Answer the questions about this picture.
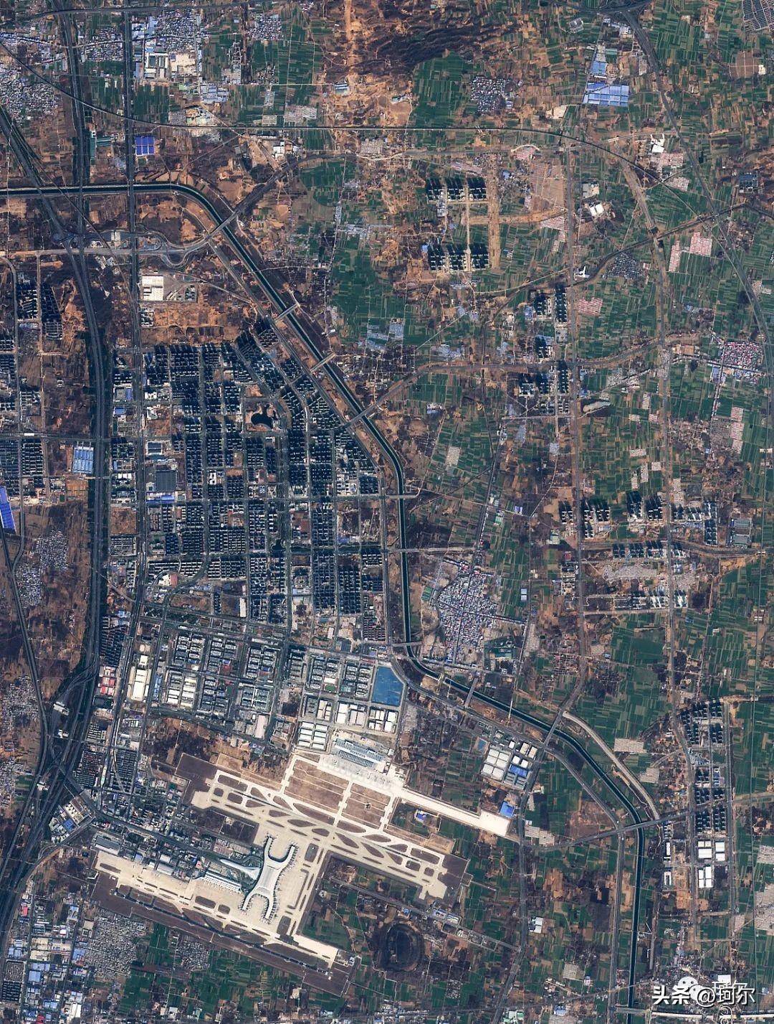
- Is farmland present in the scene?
Yes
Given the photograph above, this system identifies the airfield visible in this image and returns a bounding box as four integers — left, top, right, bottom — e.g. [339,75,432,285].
[91,749,510,996]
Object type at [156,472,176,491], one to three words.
building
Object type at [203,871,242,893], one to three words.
building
